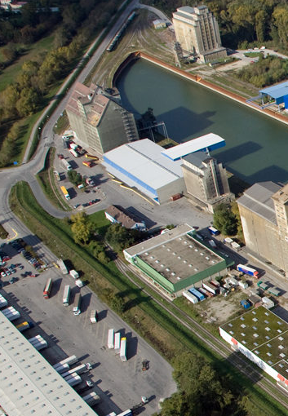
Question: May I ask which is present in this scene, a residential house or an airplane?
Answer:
residential house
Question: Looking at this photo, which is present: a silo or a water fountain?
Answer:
silo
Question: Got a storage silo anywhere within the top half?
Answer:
Yes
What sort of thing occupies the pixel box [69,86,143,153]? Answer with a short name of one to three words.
silo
